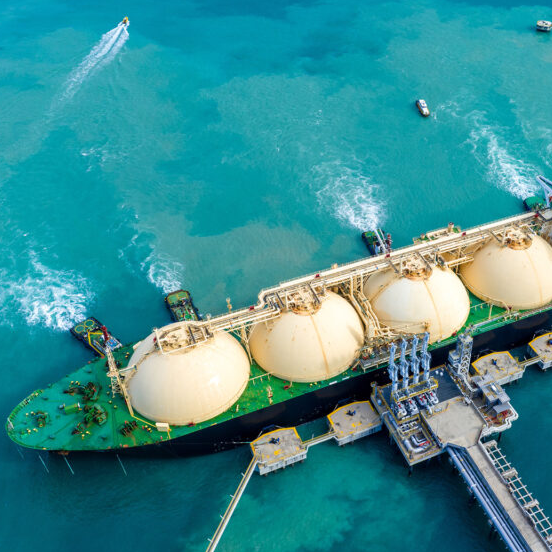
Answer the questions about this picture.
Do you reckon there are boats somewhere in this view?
Yes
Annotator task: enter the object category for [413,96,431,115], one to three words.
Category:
boat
